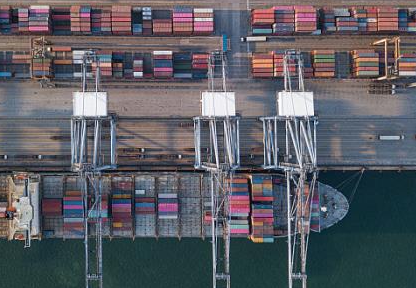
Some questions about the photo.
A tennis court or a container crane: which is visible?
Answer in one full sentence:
There is a container crane in the scene.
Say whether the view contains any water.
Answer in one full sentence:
Yes, some water is visible.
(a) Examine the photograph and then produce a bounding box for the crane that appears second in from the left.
[70,51,120,288]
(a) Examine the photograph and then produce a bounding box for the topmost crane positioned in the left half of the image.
[30,38,58,83]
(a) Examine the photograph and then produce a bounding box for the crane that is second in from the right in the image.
[264,51,321,288]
